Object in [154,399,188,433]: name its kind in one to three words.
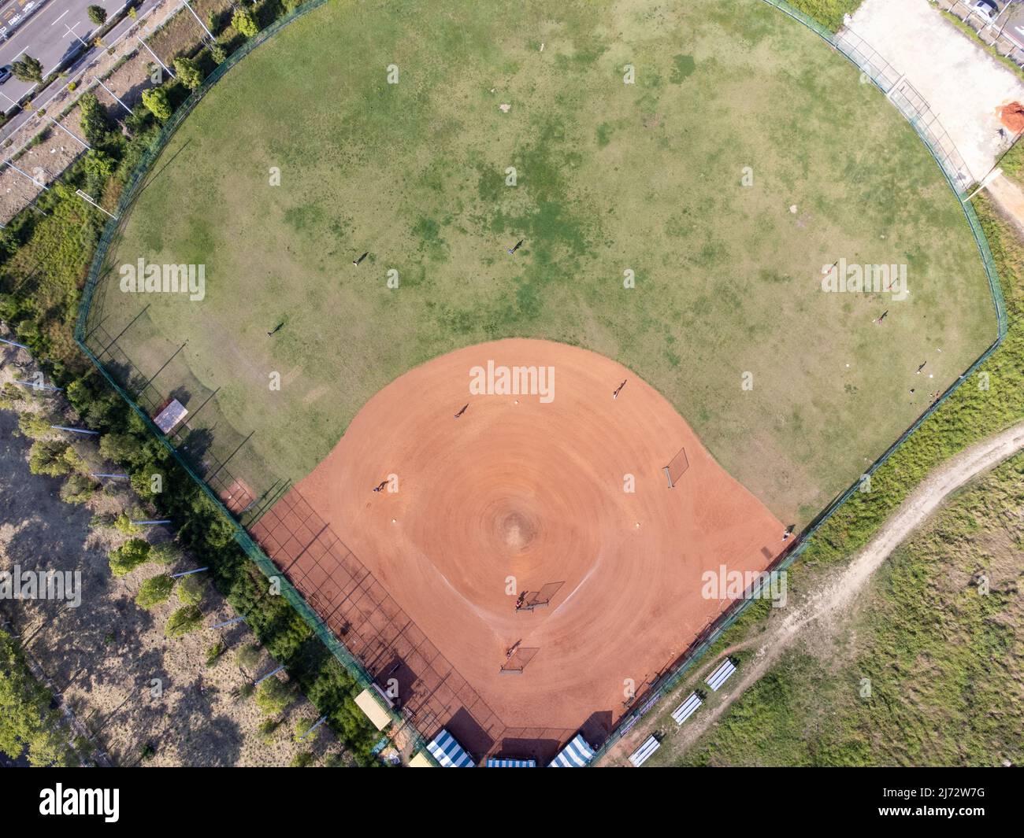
shed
